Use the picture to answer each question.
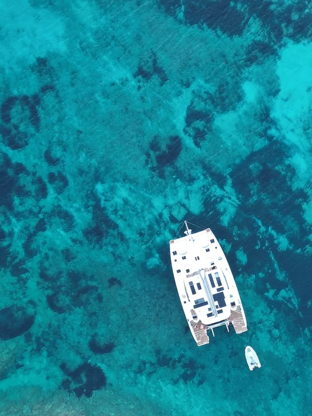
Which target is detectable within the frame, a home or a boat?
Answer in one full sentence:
The image shows a boat.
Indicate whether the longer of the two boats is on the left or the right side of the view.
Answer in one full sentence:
The longer of the two boats is on the right side of the image.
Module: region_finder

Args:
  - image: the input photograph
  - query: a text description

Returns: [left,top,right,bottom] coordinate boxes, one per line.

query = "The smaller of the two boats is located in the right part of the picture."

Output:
[245,346,260,370]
